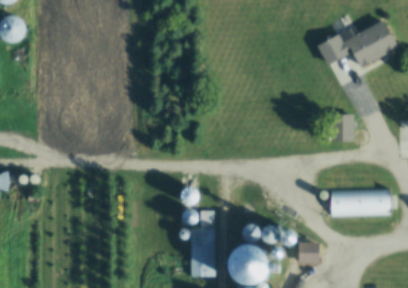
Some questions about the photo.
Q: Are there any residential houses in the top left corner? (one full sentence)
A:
No, no residential house can be made out in the top left corner.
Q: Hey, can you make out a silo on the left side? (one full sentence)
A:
Yes, a silo appears on the left side.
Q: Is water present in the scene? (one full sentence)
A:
No, the scene doesn't show any water.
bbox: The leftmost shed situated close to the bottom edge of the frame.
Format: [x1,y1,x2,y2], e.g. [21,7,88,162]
[191,228,216,277]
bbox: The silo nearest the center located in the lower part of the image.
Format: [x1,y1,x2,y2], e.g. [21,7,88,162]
[180,188,201,208]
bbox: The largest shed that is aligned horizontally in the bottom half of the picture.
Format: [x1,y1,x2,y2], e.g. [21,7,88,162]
[332,190,390,216]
